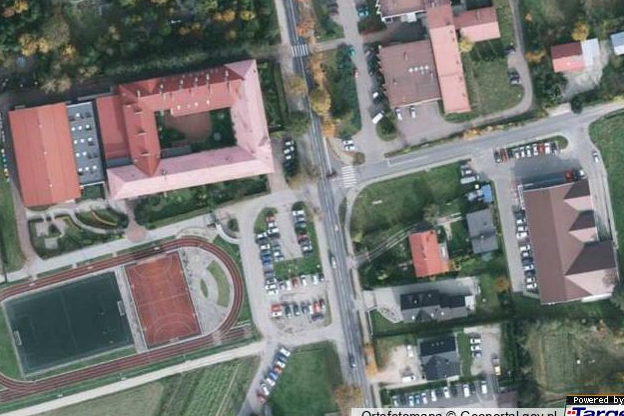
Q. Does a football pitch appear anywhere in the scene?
Yes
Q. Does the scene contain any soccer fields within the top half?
No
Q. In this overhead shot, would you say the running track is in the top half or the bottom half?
bottom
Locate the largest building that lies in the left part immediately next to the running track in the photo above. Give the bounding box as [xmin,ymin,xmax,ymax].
[106,59,274,200]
